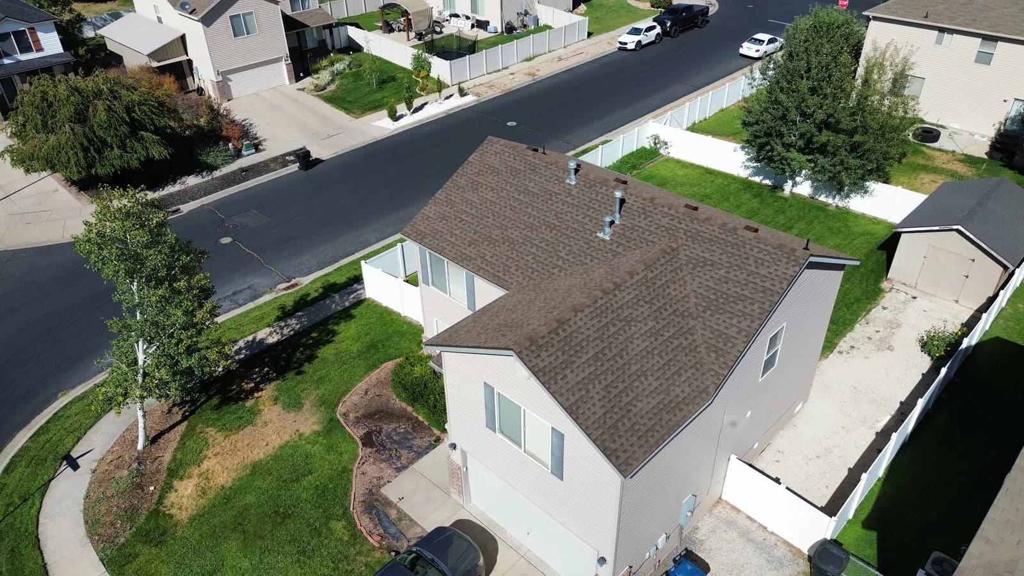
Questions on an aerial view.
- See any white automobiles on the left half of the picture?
No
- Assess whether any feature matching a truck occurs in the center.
No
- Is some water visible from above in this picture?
No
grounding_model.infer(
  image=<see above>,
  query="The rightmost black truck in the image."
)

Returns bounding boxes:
[656,4,713,38]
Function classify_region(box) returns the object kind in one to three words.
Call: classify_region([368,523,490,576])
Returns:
car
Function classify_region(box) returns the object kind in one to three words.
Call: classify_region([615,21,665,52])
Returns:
car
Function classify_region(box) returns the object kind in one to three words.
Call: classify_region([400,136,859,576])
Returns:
house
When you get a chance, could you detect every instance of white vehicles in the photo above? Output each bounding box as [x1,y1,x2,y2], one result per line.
[615,21,665,52]
[736,32,780,57]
